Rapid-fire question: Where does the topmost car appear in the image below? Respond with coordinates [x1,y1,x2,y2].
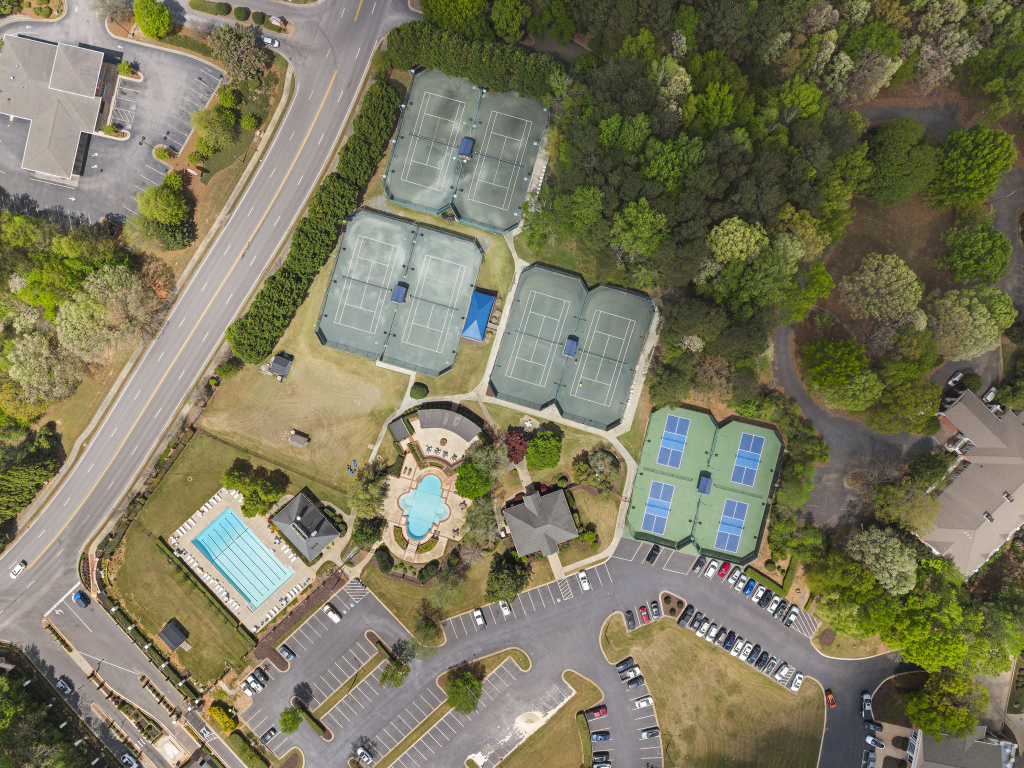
[262,36,282,49]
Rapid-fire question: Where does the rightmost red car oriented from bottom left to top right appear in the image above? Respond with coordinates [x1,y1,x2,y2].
[717,561,732,579]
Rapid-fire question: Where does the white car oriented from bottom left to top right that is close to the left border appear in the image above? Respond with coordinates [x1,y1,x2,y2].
[9,561,27,579]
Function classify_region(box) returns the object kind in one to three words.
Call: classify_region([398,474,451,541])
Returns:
swimming pool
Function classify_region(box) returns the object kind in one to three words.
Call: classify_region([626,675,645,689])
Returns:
car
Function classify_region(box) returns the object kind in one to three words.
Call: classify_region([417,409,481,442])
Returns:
building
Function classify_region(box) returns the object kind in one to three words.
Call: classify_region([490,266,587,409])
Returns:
tennis court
